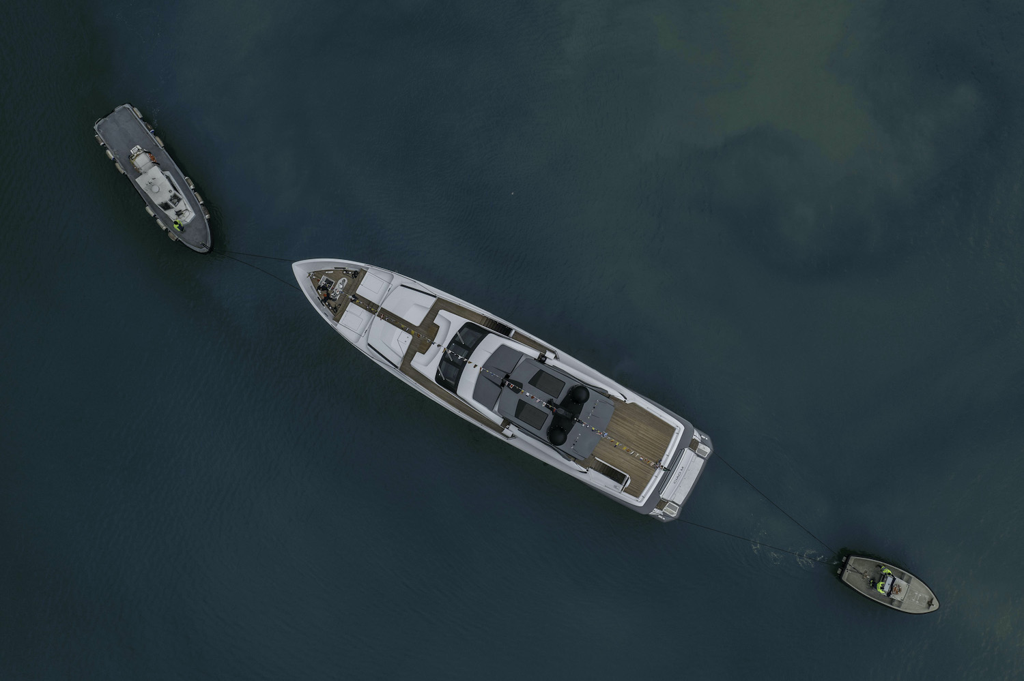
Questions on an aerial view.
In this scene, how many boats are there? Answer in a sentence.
The number of boats here is 3.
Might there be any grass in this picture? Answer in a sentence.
No, there's no grass in this view.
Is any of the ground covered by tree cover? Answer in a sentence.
No, there's no tree cover in this view.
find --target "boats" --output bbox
[93,102,215,253]
[836,553,940,615]
[292,257,713,522]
